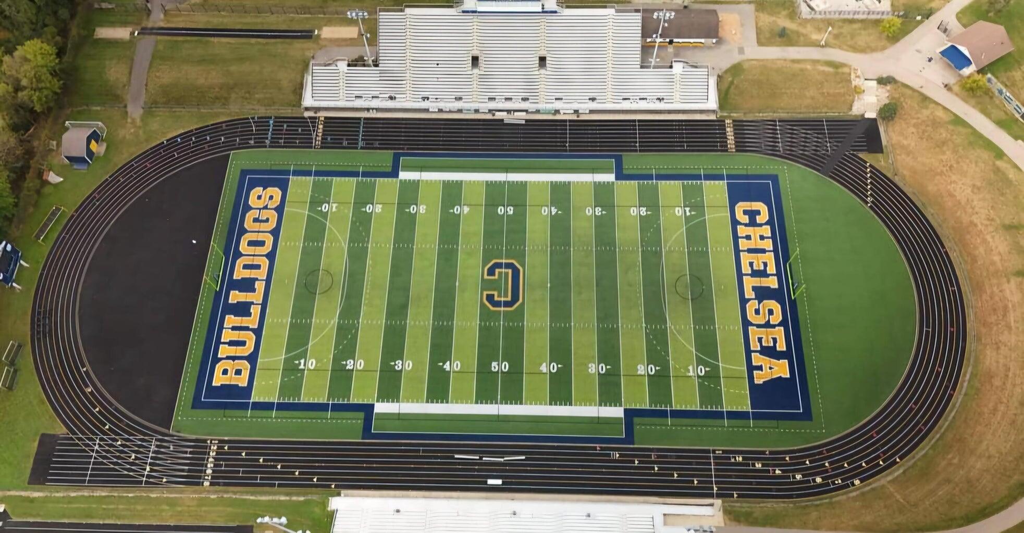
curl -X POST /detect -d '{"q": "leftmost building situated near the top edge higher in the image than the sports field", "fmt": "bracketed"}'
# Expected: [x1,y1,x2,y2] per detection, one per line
[643,10,721,47]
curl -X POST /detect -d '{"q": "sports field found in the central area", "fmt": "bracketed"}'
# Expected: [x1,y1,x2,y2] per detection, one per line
[252,177,750,410]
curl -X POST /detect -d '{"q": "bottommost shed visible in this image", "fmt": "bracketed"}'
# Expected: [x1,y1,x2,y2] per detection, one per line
[59,125,107,166]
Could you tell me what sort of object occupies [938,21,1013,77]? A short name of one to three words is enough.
building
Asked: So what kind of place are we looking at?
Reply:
sports ground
